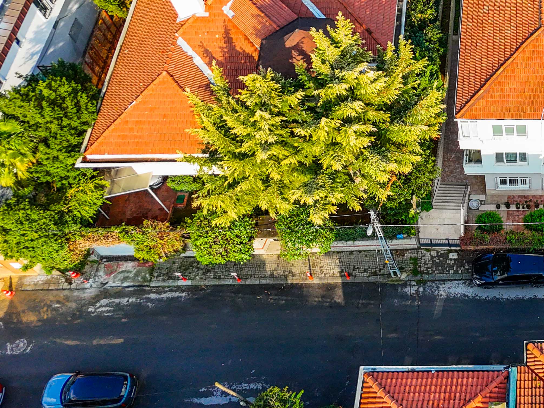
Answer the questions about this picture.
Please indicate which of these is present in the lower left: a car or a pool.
car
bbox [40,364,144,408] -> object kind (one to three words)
car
